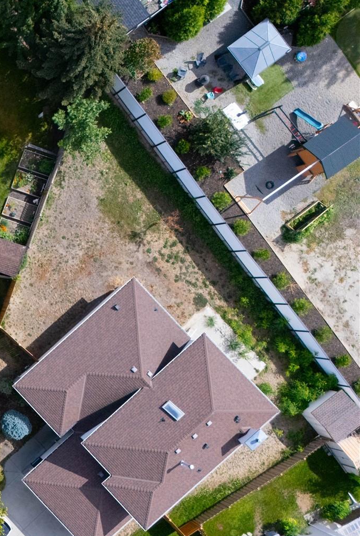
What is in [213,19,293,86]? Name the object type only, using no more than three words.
gazebo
